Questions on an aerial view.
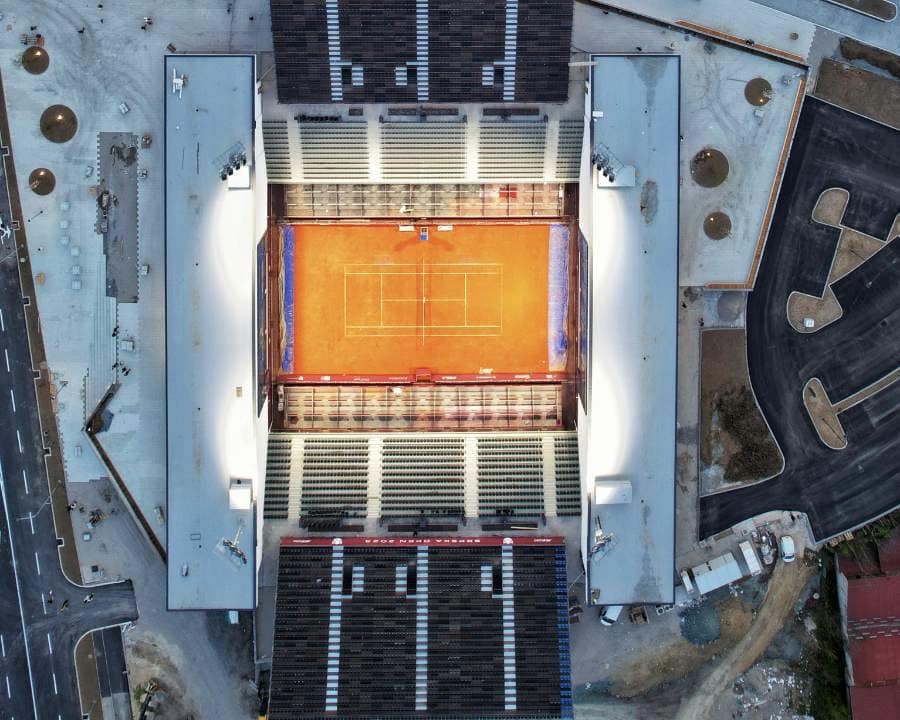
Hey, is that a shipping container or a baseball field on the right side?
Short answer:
shipping container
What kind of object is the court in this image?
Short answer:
tennis court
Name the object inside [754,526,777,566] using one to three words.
truck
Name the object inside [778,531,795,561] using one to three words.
car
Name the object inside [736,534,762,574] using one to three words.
shipping container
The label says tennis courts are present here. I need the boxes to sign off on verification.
[273,217,572,384]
